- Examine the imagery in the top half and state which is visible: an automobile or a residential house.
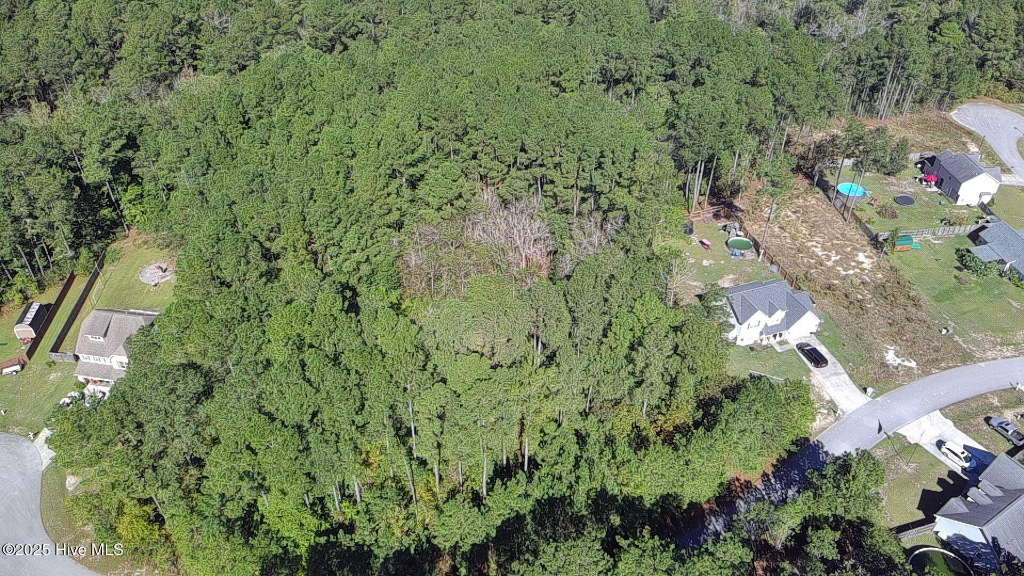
residential house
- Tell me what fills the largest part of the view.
trees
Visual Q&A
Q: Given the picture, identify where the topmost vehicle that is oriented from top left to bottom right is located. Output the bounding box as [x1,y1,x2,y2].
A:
[797,343,832,369]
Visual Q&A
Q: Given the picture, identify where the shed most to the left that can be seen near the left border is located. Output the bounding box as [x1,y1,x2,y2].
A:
[4,301,47,341]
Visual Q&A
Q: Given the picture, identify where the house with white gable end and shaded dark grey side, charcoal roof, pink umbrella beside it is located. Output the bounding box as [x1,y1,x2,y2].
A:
[926,148,1015,204]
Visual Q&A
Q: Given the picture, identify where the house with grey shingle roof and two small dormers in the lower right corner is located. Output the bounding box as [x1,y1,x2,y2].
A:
[926,445,1024,576]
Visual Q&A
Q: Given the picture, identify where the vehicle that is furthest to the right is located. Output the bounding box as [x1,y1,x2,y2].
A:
[983,417,1024,451]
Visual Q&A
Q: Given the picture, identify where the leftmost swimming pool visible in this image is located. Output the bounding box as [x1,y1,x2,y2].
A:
[726,237,753,254]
